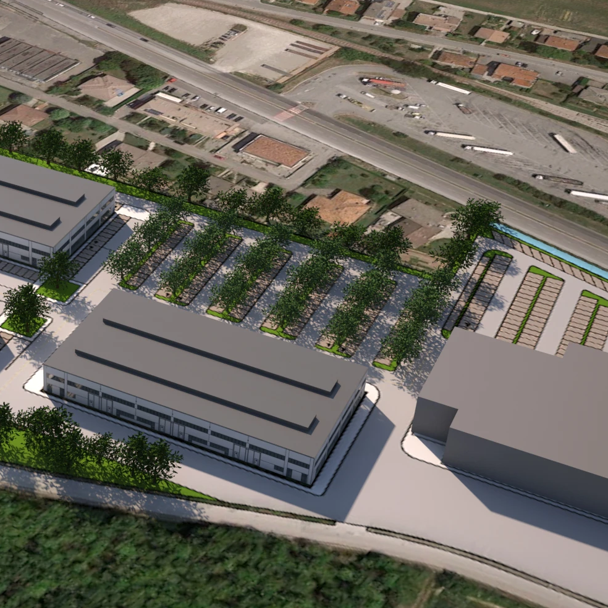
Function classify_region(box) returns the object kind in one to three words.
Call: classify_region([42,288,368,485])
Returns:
building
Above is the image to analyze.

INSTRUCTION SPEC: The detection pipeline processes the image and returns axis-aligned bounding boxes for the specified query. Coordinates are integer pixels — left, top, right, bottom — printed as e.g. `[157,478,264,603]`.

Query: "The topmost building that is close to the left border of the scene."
[0,38,82,87]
